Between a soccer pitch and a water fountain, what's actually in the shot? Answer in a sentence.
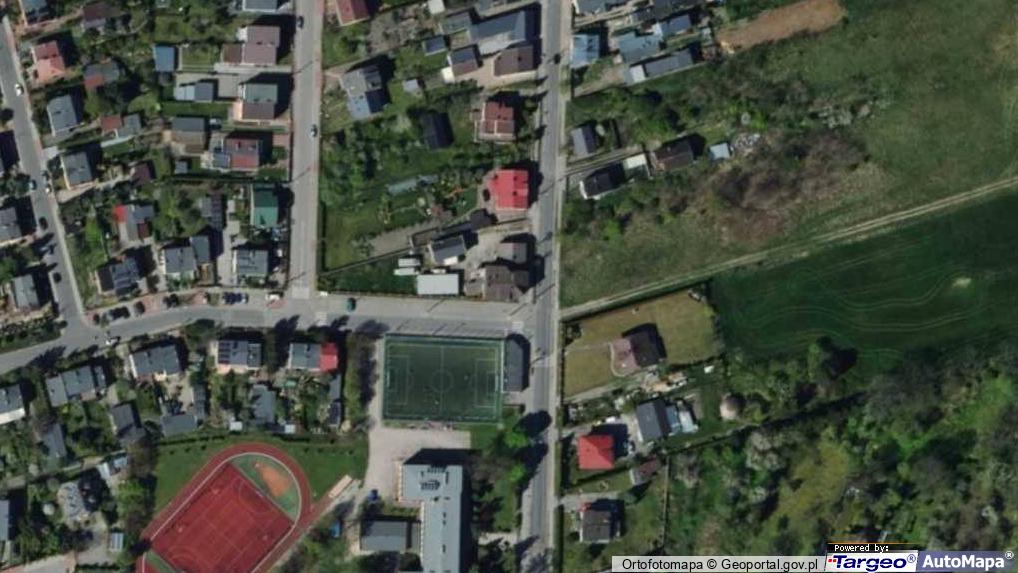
There is a soccer pitch in the scene.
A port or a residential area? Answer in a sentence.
What you see here is a residential area.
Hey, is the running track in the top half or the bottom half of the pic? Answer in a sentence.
The bottom half of the photo is where the running track is.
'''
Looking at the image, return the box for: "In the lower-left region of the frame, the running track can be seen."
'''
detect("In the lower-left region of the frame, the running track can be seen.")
[134,443,333,573]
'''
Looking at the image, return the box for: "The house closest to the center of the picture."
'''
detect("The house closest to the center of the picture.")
[481,263,529,302]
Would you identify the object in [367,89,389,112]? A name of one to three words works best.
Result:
solar panel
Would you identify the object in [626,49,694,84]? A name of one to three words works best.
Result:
barn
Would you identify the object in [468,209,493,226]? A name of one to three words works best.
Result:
building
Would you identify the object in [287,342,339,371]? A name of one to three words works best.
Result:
house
